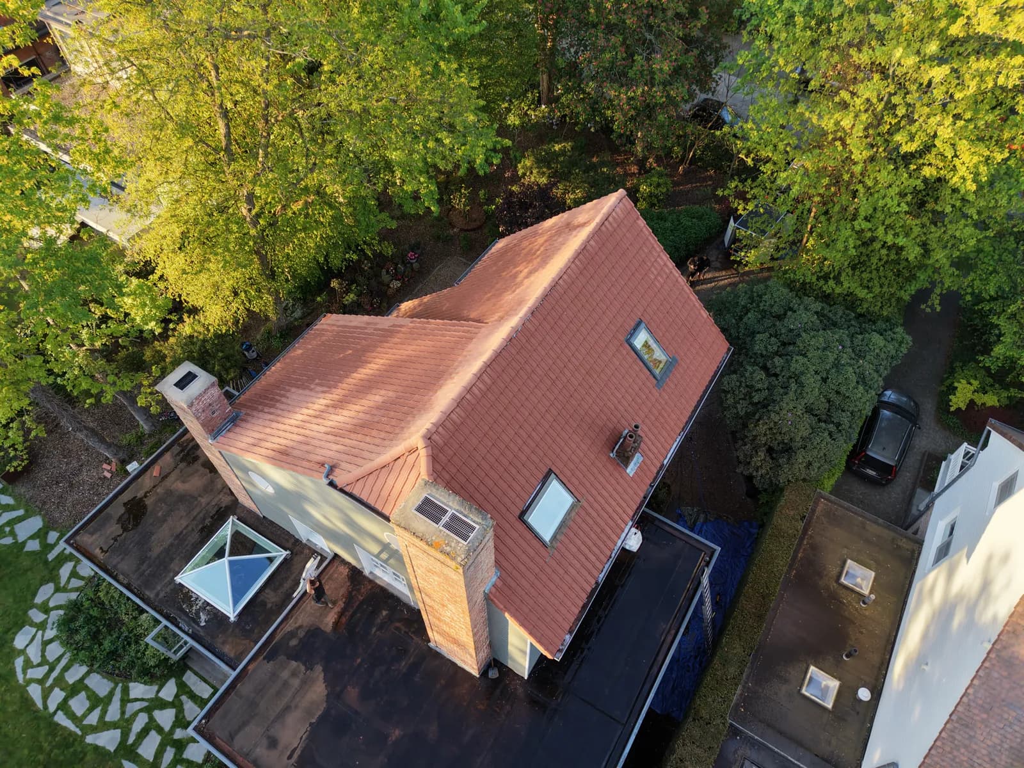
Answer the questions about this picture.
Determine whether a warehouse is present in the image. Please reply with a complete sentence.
No, the frame has no warehouse in it.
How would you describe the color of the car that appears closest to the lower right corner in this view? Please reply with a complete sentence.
In this view, the car that appears closest to the lower right corner is black.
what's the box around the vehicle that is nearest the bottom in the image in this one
[838,377,919,481]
